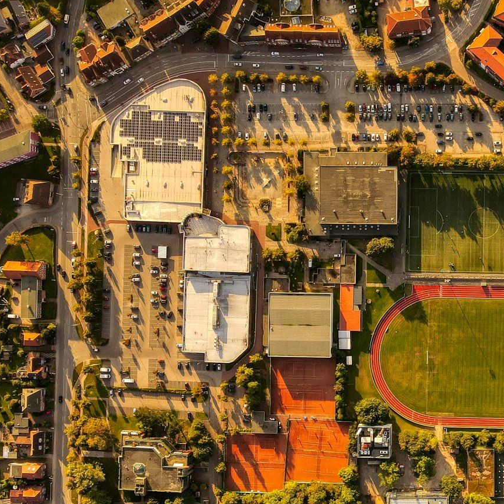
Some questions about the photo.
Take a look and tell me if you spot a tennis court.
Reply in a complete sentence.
Yes, the picture does show a tennis court.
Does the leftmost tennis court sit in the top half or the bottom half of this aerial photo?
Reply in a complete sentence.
The leftmost tennis court is in the bottom half of the image.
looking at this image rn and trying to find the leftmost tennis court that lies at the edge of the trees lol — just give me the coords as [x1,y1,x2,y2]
[223,435,287,491]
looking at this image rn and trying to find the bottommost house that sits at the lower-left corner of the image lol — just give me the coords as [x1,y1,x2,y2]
[0,484,47,504]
